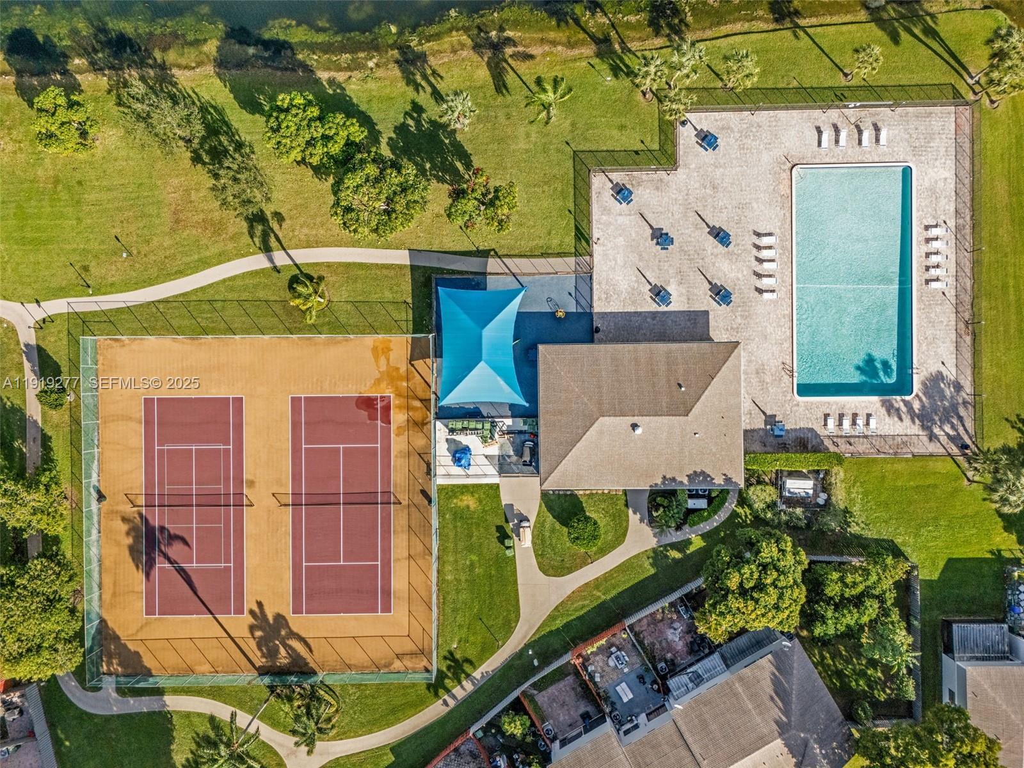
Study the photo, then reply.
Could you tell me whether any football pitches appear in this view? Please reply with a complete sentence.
No, the picture doesn't show any football pitch.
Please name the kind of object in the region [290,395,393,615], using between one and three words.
tennis court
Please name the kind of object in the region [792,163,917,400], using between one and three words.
swimming pool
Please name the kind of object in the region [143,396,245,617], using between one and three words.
tennis court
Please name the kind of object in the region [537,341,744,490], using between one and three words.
building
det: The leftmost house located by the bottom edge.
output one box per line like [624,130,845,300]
[549,716,636,768]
